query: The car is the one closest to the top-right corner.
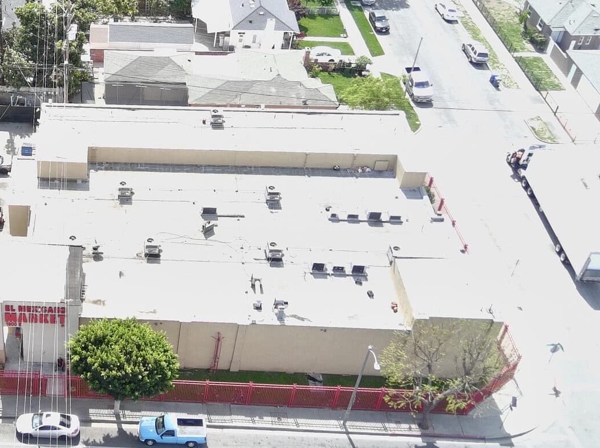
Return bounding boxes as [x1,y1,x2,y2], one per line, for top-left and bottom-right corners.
[459,41,493,66]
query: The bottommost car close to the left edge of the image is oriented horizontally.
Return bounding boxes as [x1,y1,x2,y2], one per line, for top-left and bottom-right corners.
[17,412,80,442]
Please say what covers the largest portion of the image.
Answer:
buildings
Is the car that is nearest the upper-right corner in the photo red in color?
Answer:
No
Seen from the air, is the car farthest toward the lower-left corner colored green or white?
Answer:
white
